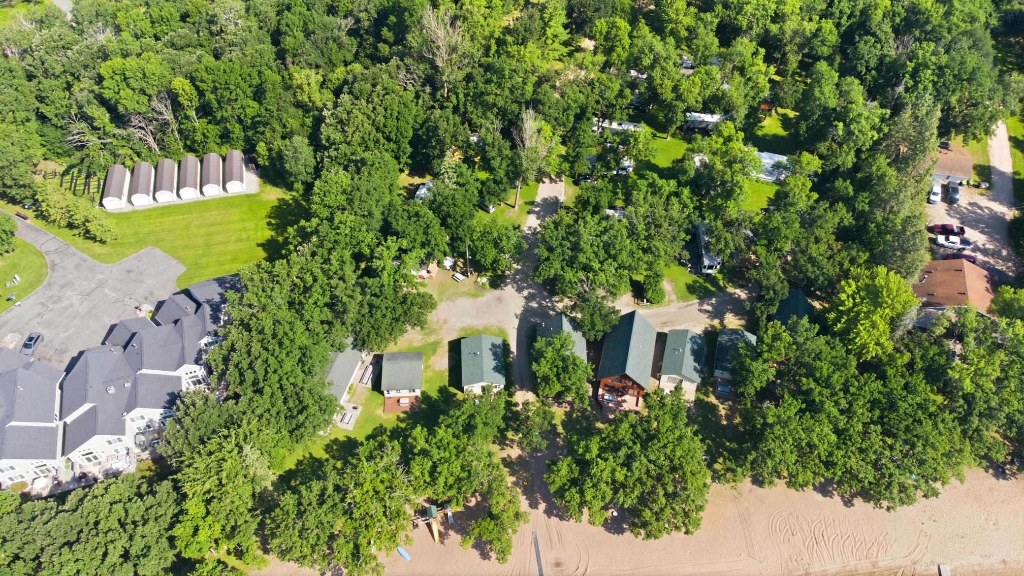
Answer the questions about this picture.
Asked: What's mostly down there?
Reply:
trees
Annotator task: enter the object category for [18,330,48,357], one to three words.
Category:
car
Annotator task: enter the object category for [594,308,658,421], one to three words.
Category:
house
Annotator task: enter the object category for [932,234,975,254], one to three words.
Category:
vehicle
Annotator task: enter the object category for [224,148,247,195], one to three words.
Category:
shed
